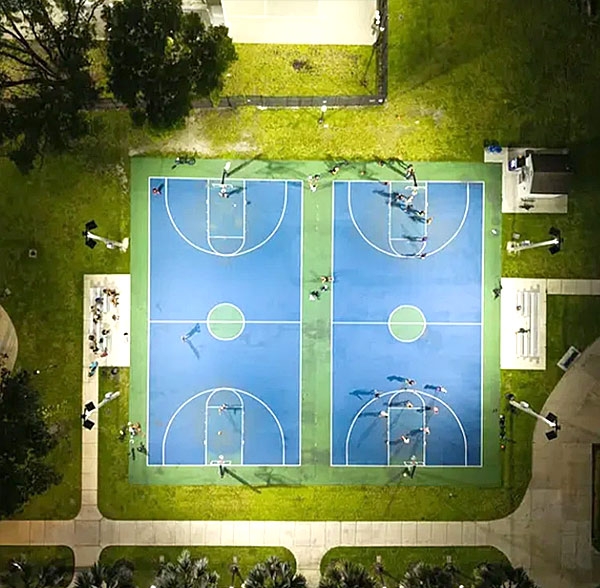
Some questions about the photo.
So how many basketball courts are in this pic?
2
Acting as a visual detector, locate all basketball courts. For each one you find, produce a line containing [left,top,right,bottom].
[129,158,318,486]
[315,160,502,487]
